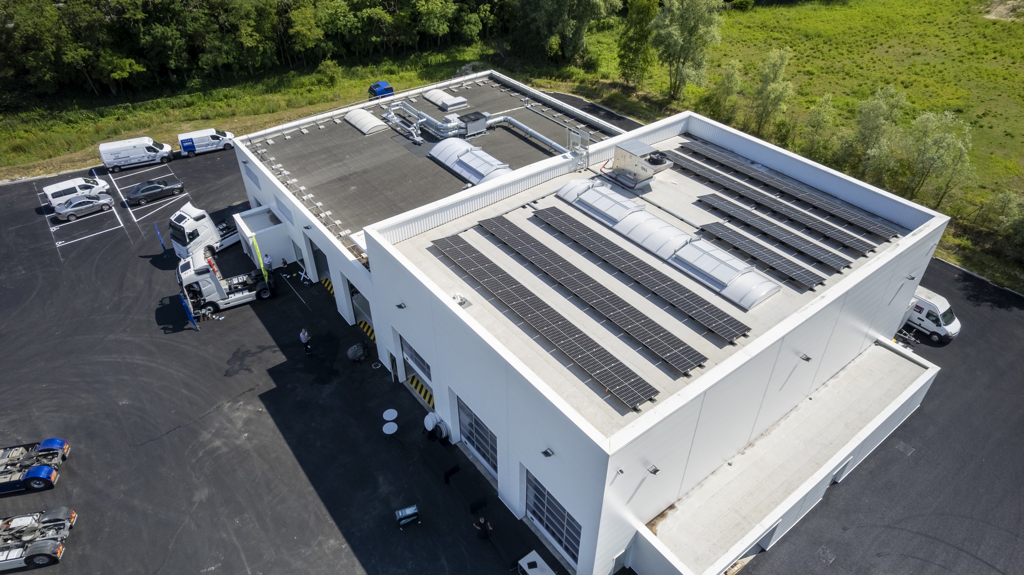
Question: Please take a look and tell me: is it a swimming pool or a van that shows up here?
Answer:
van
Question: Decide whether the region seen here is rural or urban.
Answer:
urban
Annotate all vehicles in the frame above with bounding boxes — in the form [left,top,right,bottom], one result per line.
[42,176,111,208]
[53,193,115,221]
[0,506,74,568]
[178,130,234,157]
[177,250,276,316]
[0,439,68,491]
[907,288,965,348]
[363,81,401,103]
[96,136,172,173]
[166,205,239,264]
[122,178,184,206]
